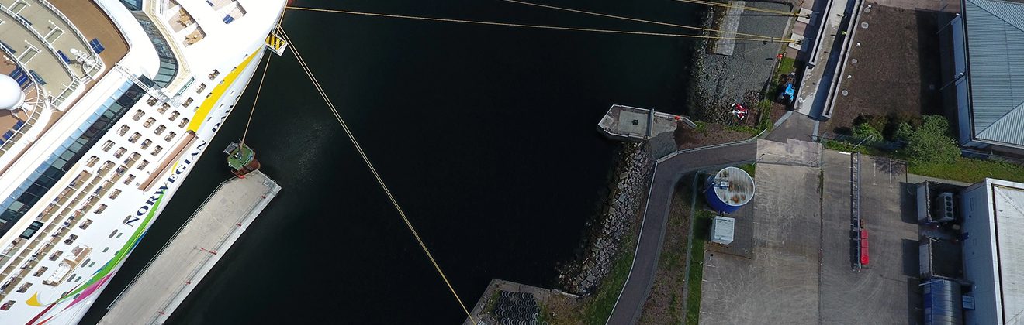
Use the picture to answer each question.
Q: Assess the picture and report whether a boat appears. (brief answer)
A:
Yes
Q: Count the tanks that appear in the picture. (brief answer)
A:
1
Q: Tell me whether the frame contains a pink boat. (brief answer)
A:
No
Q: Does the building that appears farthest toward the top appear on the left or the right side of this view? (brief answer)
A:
right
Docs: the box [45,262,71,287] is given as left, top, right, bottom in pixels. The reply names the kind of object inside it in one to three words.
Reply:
boat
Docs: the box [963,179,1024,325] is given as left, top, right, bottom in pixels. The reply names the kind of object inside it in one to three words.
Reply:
building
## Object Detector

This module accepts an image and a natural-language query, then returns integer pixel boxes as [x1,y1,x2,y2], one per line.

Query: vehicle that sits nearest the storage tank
[778,71,801,103]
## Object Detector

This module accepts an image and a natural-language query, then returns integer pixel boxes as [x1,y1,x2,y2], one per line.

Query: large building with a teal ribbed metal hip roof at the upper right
[945,0,1024,162]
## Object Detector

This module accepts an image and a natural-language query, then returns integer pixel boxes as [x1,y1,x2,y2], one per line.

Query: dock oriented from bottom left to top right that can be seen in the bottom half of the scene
[89,169,280,325]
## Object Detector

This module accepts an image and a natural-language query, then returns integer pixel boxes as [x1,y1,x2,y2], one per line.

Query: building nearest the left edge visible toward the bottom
[711,218,735,244]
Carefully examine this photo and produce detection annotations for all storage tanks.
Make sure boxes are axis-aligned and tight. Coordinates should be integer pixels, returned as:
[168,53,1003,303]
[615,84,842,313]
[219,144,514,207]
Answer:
[701,167,754,217]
